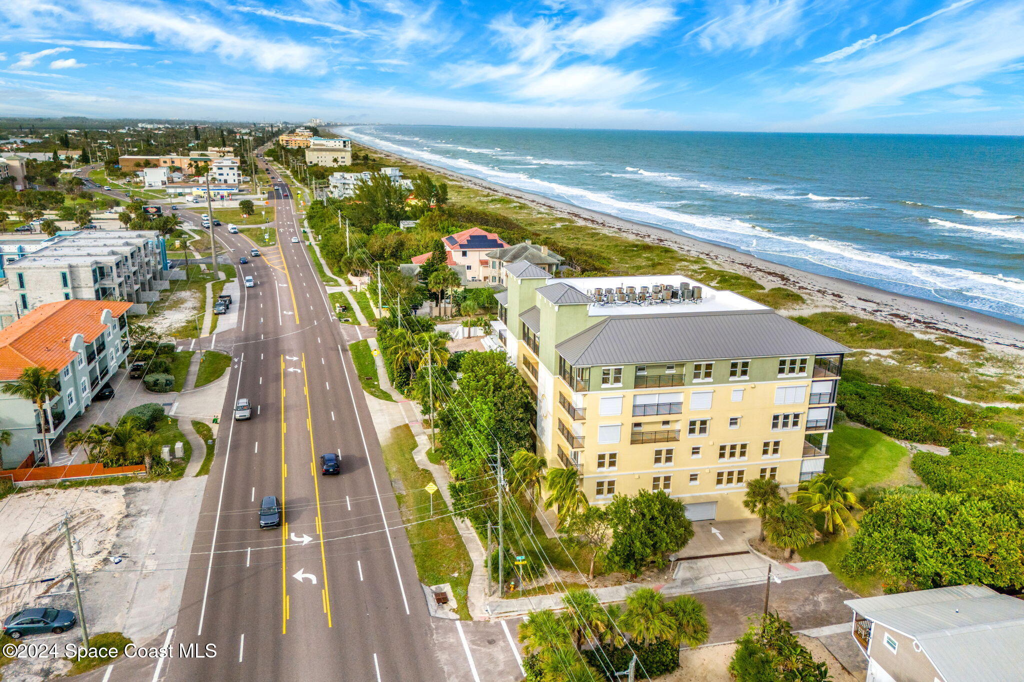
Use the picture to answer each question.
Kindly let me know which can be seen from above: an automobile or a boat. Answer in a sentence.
Visible in the photo is an automobile.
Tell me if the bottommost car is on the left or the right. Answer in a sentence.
It is on the left.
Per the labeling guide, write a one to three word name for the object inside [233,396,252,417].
car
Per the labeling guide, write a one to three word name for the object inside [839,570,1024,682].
house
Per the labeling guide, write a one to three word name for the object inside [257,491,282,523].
car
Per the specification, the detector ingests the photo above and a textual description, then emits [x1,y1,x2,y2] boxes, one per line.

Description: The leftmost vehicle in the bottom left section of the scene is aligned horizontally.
[1,607,74,641]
